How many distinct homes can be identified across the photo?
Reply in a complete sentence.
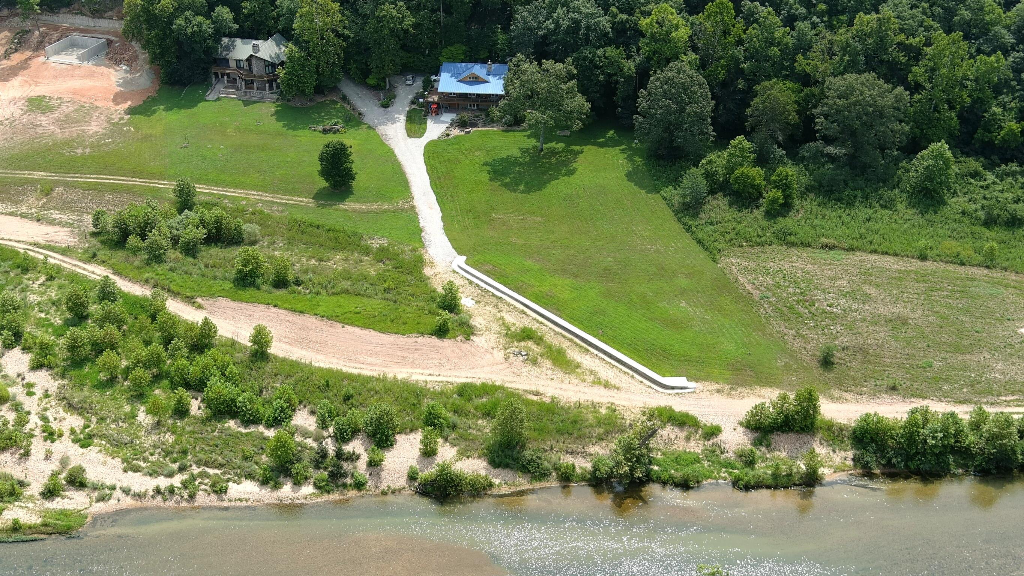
There are 2 homes in the image.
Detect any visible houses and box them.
[424,57,507,123]
[200,26,296,98]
